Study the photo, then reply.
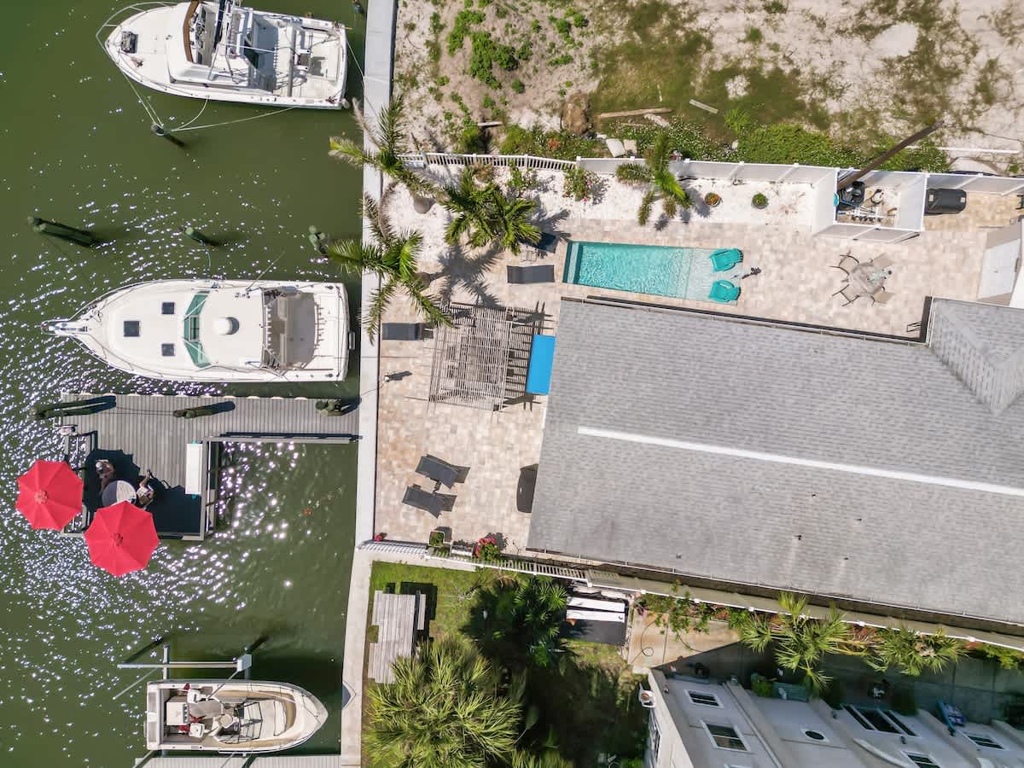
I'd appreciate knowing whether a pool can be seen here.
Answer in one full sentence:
Yes, the picture does show a pool.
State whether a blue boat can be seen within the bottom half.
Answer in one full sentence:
No, the scene shows no blue boat within the bottom half.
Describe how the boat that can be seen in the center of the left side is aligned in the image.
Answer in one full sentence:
The boat that can be seen in the center of the left side is oriented horizontally.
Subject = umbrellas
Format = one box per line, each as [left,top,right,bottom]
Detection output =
[87,500,160,575]
[17,461,92,528]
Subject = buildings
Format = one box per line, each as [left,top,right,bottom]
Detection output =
[645,666,1024,768]
[526,295,1024,627]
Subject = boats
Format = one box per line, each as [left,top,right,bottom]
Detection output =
[96,0,352,115]
[41,251,354,384]
[143,677,329,754]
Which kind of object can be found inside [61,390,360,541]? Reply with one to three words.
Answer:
pier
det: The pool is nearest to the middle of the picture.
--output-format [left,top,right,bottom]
[559,238,748,309]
